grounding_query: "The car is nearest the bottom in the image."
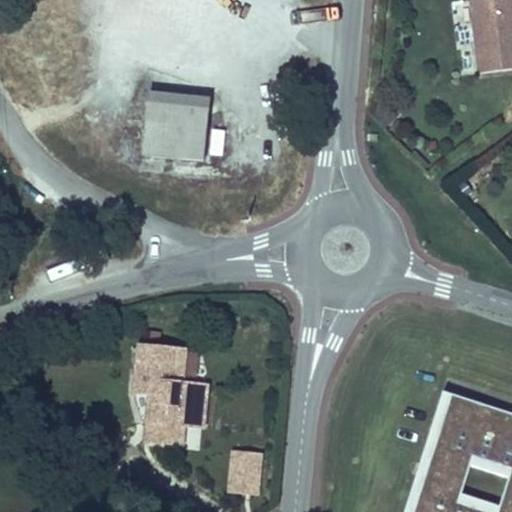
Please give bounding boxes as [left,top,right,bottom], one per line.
[397,429,420,442]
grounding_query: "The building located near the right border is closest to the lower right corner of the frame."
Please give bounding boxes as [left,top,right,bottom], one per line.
[404,390,512,512]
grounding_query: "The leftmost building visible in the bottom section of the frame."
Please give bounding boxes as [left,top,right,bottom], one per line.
[132,330,210,451]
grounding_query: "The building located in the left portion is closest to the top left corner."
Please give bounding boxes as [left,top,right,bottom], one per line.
[142,91,210,161]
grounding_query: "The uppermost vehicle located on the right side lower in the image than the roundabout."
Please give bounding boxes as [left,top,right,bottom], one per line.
[416,371,436,383]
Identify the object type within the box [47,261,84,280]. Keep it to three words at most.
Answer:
vehicle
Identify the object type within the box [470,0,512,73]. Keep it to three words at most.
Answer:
house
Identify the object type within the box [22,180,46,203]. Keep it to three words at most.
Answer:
truck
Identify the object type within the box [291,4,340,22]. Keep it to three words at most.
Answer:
vehicle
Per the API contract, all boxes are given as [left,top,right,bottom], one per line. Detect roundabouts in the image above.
[268,162,434,332]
